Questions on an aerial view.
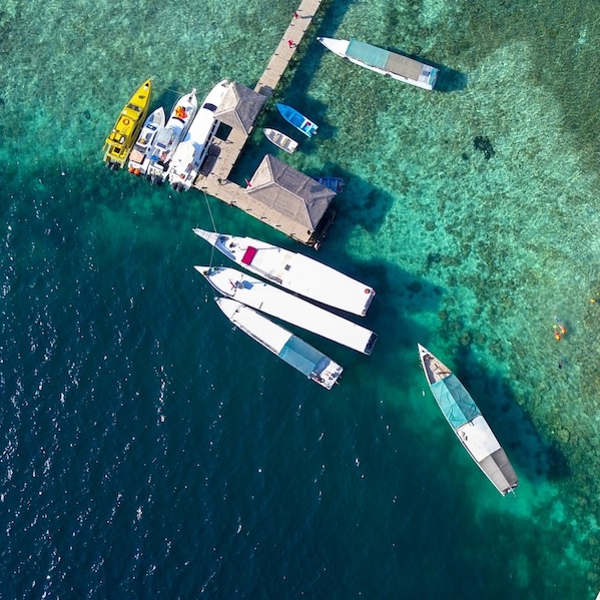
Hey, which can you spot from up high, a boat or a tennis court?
boat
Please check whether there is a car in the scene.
No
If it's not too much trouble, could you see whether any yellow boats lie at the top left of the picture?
Yes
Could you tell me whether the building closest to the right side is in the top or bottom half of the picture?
top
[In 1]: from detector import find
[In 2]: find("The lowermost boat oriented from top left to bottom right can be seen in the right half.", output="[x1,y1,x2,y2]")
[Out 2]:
[418,344,517,496]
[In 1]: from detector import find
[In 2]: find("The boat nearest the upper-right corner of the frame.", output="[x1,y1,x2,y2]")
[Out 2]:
[319,37,439,92]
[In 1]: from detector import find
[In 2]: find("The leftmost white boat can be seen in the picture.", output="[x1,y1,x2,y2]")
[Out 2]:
[128,107,164,175]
